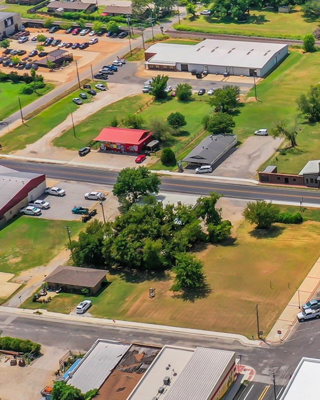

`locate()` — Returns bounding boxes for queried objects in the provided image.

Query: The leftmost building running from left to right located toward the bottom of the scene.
[43,265,111,298]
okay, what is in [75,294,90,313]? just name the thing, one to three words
car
